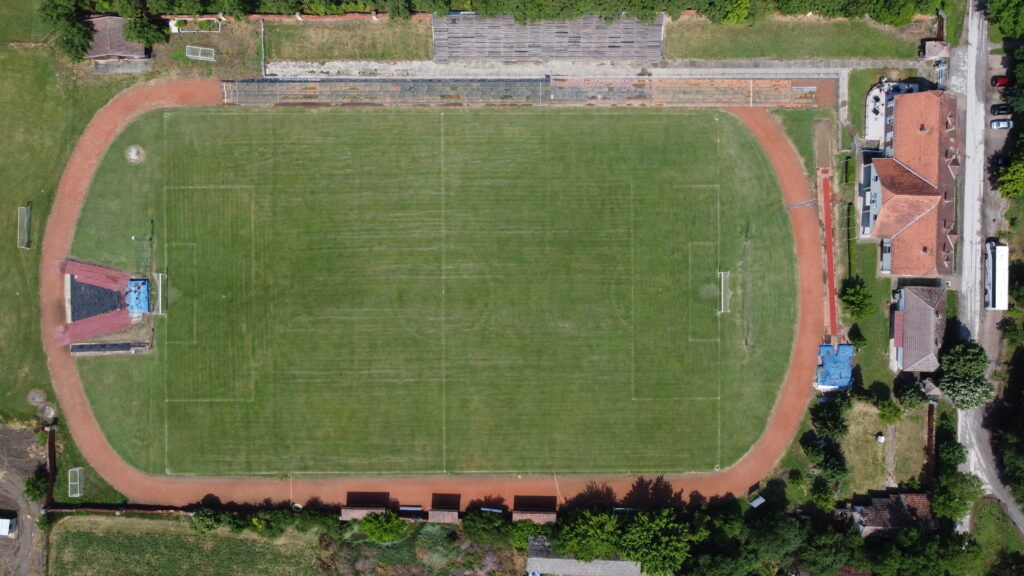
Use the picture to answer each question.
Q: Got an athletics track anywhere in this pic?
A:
Yes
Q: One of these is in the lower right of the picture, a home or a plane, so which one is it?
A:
home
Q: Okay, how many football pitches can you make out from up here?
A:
1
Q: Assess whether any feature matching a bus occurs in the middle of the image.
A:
No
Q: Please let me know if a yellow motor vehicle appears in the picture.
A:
No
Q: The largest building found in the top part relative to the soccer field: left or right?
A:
to its right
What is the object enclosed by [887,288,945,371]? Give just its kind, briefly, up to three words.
house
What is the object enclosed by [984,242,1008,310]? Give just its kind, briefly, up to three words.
bus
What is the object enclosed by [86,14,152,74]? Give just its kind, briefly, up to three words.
shed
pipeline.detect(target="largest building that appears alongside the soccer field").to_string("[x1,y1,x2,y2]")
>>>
[857,90,959,275]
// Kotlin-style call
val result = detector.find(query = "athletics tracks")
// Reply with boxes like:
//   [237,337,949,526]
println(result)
[40,79,837,507]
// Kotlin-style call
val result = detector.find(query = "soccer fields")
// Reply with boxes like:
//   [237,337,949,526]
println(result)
[69,105,799,476]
